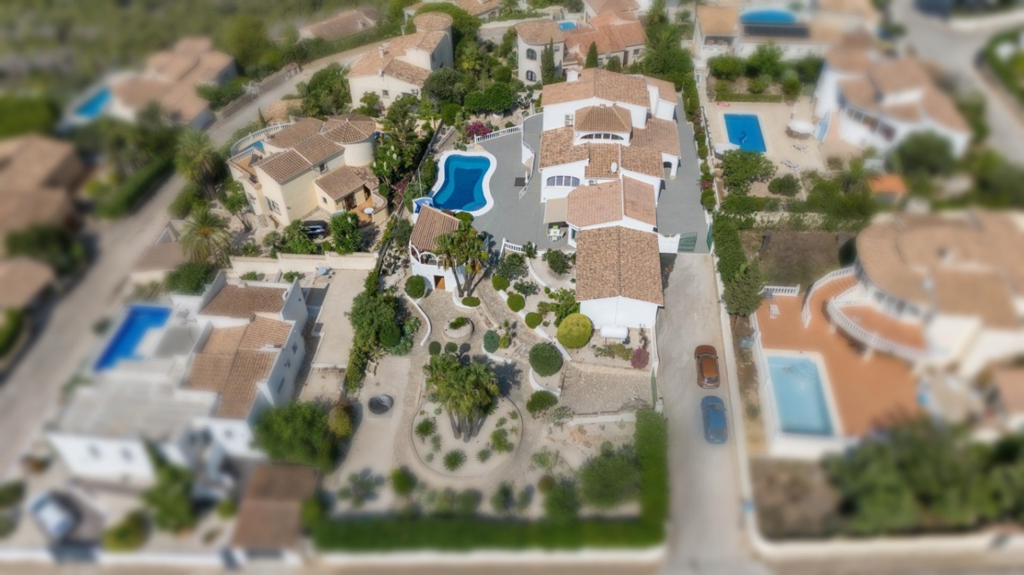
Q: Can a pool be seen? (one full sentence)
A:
Yes, a pool appears in the view.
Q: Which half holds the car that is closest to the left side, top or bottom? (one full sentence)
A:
It is in the bottom half that the car that is closest to the left side appears.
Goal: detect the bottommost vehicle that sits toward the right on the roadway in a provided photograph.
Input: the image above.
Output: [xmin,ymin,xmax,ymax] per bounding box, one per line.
[701,399,731,446]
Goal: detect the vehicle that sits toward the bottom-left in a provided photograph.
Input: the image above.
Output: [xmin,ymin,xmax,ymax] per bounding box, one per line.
[32,492,76,550]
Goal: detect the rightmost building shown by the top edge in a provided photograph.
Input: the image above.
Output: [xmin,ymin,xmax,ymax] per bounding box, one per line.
[820,28,968,164]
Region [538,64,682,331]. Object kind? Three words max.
house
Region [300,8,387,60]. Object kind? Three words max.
house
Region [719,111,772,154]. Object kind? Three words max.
swimming pool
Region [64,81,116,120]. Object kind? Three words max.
swimming pool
